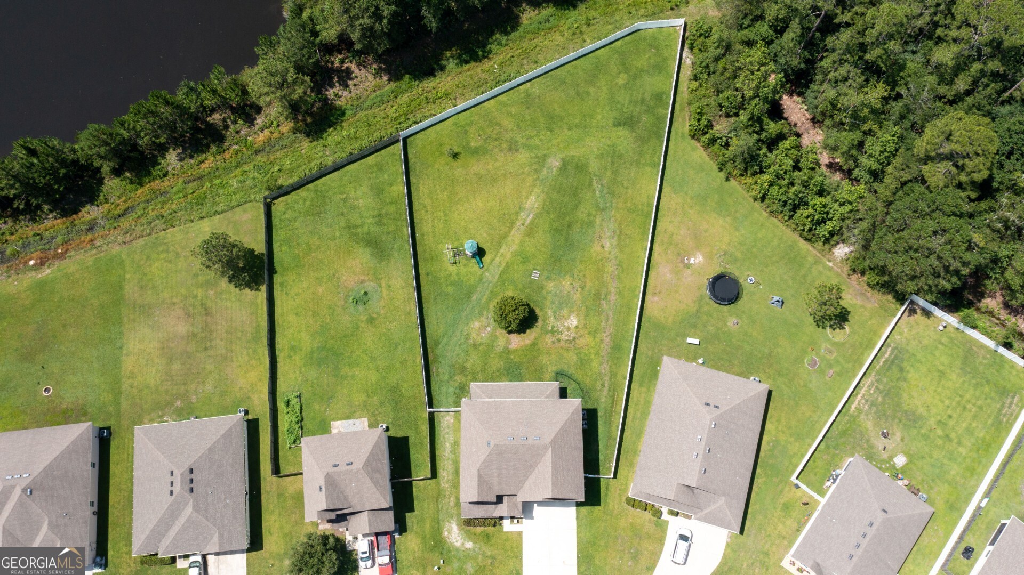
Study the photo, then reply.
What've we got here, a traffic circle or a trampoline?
trampoline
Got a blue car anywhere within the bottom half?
No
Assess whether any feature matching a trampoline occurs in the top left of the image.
No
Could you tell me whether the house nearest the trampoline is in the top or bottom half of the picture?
bottom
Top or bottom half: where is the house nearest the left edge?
bottom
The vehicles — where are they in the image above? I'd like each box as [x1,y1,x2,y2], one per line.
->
[670,526,693,566]
[373,533,395,575]
[356,537,375,571]
[186,552,206,575]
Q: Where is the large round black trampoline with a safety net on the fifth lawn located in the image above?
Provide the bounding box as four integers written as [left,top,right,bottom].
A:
[705,273,743,309]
